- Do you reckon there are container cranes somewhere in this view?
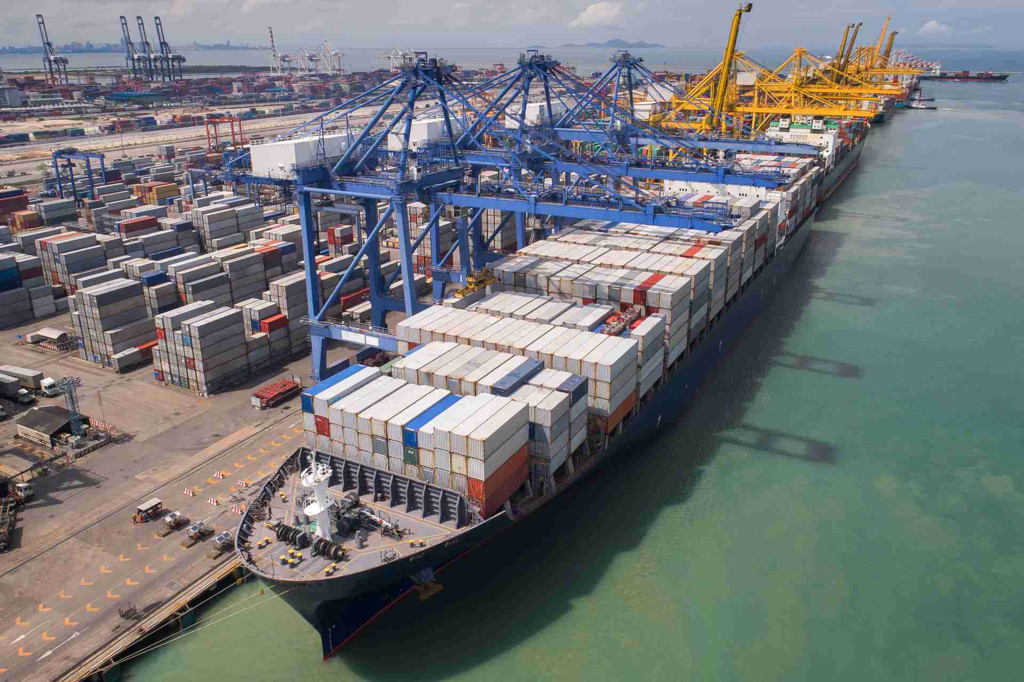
Yes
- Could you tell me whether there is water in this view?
Yes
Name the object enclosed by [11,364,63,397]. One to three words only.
truck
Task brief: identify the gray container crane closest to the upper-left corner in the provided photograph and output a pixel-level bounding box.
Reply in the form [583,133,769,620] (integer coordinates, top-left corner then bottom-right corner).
[36,15,72,86]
